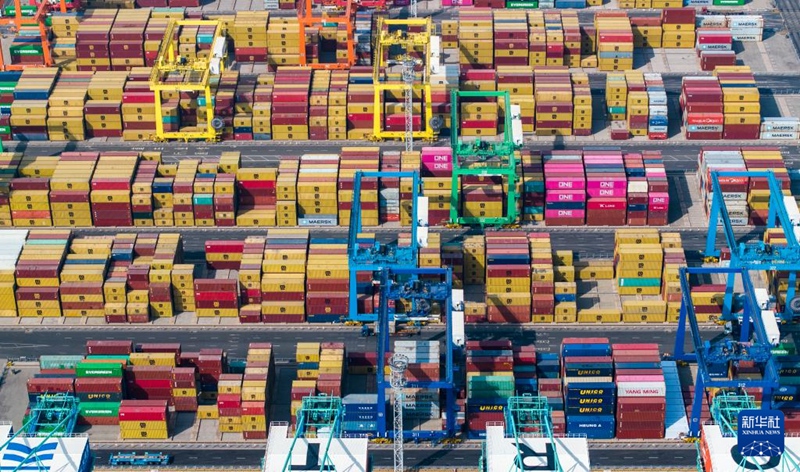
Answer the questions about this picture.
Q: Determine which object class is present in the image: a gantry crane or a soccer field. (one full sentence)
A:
The one in the frame is a gantry crane.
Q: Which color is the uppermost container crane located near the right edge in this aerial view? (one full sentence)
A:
From above, the uppermost container crane located near the right edge appears blue.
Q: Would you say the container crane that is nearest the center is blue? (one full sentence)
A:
Yes, the container crane that is nearest the center is indeed blue.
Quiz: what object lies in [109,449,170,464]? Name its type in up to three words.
vehicle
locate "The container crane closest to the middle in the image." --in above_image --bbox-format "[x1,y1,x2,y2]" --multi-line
[341,172,430,325]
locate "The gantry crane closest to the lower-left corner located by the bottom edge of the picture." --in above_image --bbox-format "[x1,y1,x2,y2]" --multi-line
[0,392,93,472]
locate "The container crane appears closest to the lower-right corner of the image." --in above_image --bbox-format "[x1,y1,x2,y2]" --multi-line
[691,392,800,472]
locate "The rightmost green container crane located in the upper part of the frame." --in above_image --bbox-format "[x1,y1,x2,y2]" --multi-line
[444,93,524,228]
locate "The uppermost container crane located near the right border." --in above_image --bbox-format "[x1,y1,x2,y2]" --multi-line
[701,172,800,325]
